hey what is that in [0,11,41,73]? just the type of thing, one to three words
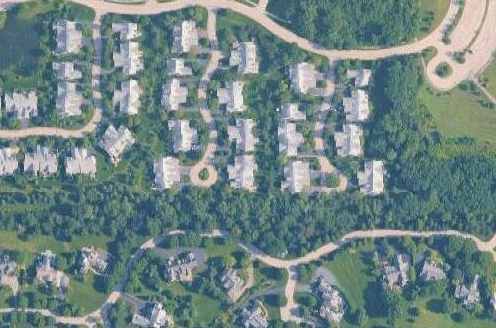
pond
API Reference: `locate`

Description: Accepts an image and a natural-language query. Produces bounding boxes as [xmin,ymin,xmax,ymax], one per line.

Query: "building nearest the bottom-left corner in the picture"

[0,251,21,294]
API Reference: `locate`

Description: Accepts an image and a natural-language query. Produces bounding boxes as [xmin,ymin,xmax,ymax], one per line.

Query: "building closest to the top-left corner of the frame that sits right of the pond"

[52,19,82,54]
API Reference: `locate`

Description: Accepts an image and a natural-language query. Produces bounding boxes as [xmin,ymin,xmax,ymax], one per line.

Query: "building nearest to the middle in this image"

[227,154,260,191]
